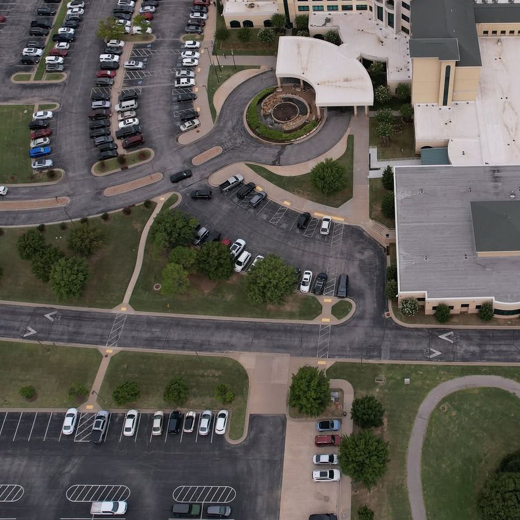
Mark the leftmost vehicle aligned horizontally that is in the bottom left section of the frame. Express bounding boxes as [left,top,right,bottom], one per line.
[90,499,127,516]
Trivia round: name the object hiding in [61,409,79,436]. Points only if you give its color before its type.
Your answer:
white car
